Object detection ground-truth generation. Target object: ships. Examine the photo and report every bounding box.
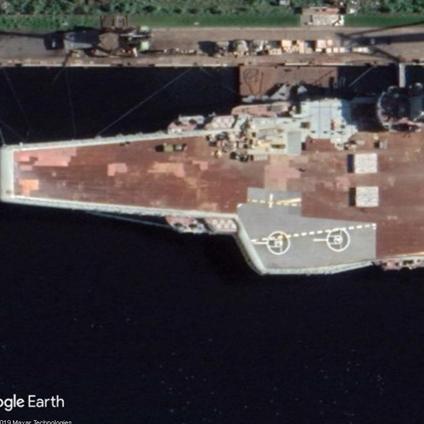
[239,67,339,102]
[0,81,424,276]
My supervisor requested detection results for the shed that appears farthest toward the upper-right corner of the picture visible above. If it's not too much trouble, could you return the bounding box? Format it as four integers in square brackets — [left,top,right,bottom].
[301,9,344,27]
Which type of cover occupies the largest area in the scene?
water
